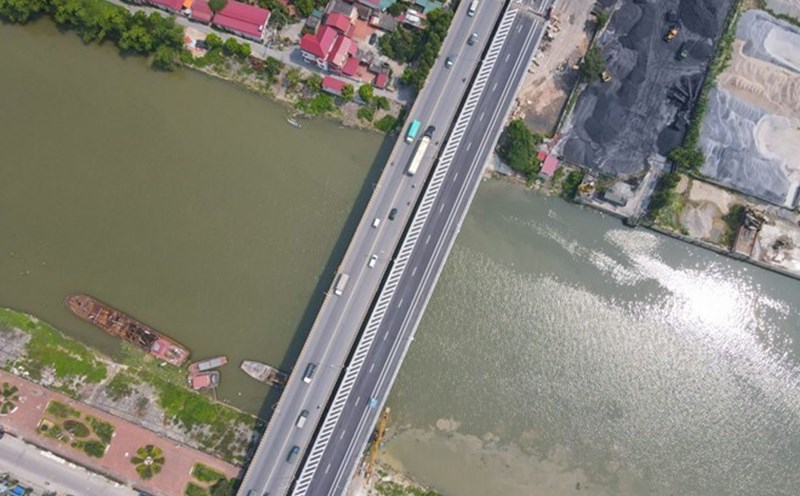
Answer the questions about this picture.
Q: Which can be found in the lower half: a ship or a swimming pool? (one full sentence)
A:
What appears in the lower half is a ship.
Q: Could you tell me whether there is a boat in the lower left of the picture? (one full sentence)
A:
Yes, a boat shows up in the lower left of the picture.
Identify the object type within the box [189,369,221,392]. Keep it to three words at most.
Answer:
boat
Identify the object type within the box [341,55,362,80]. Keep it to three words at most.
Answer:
house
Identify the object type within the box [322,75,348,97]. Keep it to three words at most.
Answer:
house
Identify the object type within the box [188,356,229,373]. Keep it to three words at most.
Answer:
boat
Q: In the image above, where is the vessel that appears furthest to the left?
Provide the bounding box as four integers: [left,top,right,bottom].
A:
[65,300,191,367]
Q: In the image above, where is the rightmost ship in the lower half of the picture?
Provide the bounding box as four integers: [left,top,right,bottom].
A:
[241,361,290,384]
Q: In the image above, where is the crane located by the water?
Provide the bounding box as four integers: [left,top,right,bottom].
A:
[362,407,391,480]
